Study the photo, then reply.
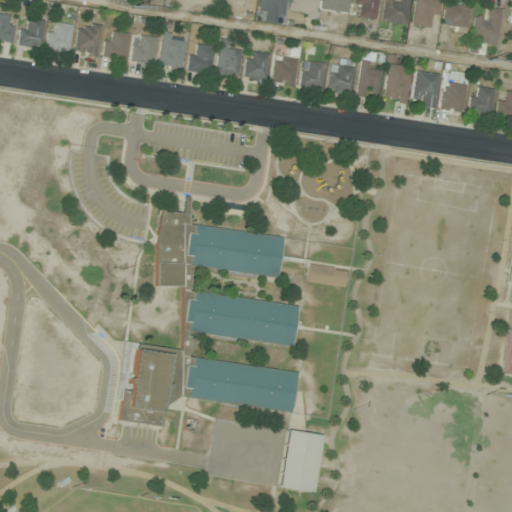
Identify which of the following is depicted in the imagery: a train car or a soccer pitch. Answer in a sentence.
Of the two, only a soccer pitch appears.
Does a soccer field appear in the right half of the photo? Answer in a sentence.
Yes, I can see a soccer field in the right half of the photo.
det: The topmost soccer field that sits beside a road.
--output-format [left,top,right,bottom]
[369,172,497,370]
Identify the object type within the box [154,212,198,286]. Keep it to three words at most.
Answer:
building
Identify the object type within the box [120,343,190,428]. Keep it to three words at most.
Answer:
building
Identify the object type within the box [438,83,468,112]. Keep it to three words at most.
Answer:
house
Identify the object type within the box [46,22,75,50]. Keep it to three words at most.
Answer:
house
